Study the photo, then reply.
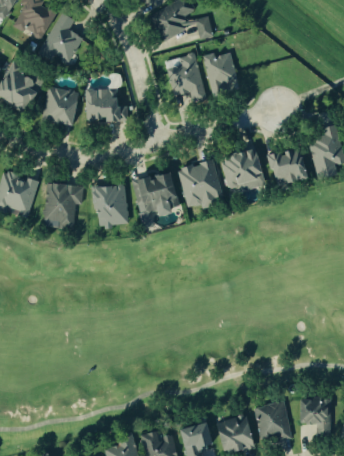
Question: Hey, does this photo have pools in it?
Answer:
Yes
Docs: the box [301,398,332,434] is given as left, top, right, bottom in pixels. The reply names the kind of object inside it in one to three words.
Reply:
house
